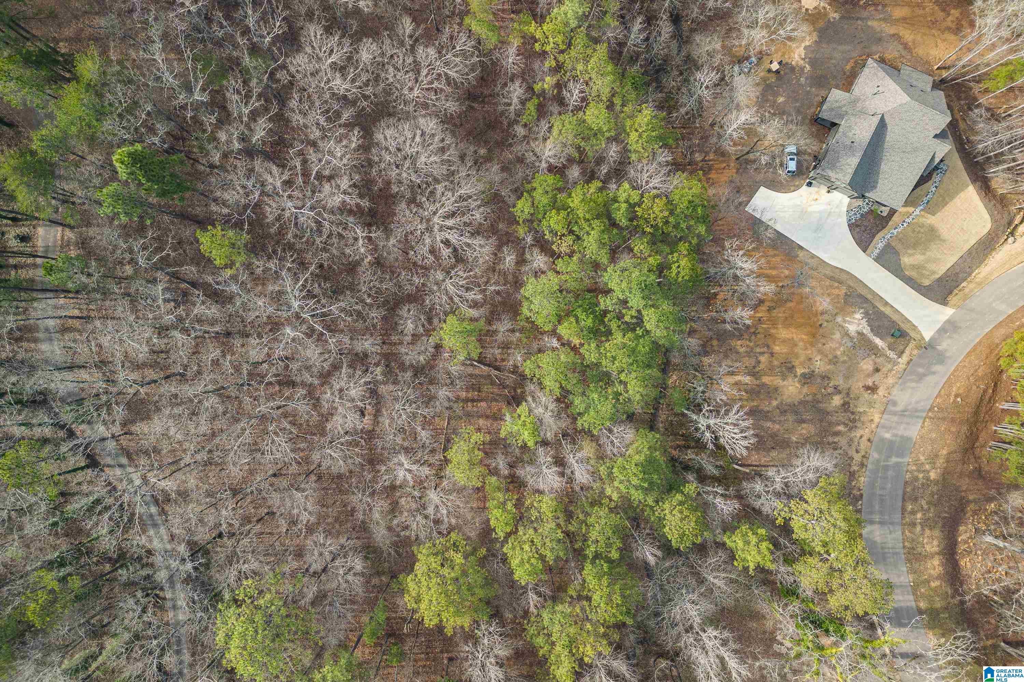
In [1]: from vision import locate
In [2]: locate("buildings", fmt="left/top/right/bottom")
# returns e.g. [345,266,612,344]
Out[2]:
[805,57,953,212]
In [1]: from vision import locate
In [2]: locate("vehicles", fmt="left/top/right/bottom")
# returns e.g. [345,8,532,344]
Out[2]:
[784,144,801,176]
